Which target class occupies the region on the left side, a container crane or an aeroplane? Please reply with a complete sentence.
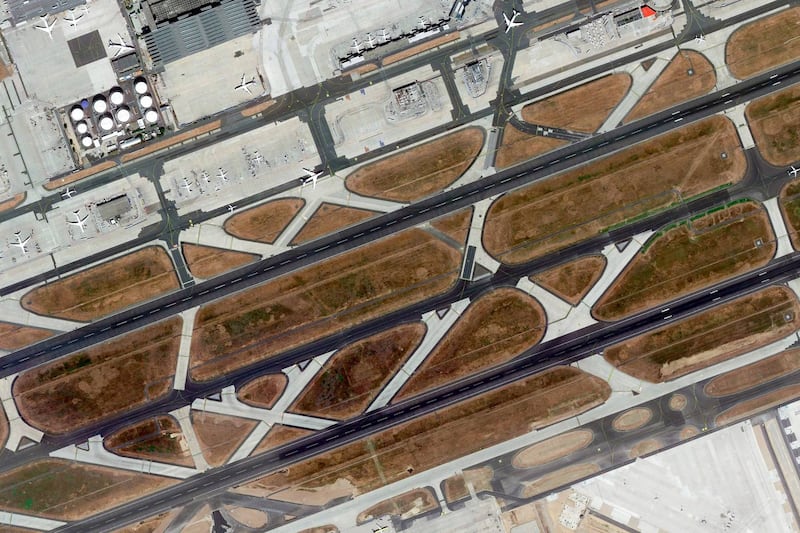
Looking on the left side, you will find an aeroplane.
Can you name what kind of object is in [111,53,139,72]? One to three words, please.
building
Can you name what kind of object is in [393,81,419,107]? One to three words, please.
building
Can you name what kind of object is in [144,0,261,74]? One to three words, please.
hangar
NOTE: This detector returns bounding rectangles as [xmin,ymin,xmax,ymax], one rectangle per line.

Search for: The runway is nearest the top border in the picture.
[0,59,800,381]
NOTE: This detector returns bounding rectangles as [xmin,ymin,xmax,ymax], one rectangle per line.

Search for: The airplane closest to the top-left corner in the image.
[34,15,57,38]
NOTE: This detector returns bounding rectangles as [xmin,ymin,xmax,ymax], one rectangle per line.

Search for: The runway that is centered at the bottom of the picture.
[42,252,800,533]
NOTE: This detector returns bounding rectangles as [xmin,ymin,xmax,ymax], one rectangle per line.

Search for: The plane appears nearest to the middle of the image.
[301,170,323,190]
